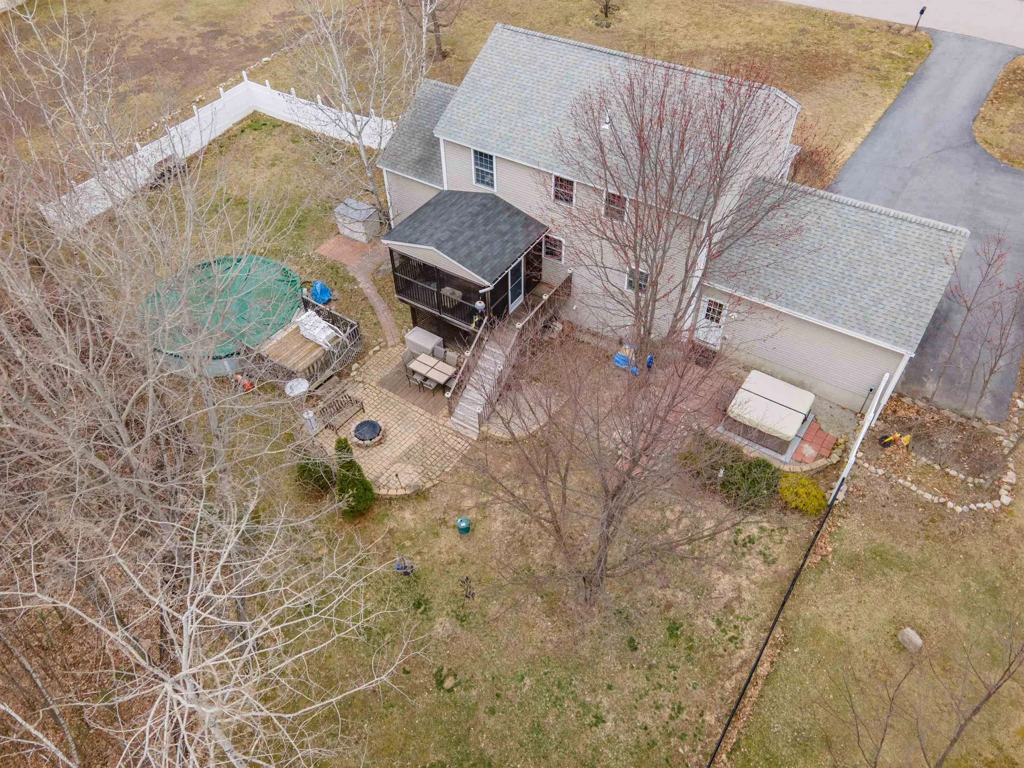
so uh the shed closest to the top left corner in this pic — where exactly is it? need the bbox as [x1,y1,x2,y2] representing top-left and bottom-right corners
[329,198,384,250]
